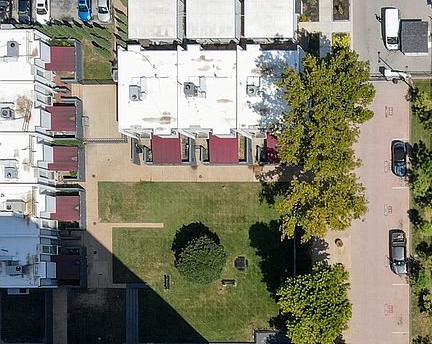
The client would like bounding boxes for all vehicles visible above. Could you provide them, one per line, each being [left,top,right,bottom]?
[0,0,15,26]
[386,67,407,81]
[96,0,112,23]
[382,4,399,52]
[76,0,94,23]
[390,232,407,274]
[392,140,408,176]
[34,0,52,25]
[15,0,34,26]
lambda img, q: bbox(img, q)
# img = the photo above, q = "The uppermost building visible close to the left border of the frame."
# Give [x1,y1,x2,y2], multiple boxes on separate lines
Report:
[0,28,82,89]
